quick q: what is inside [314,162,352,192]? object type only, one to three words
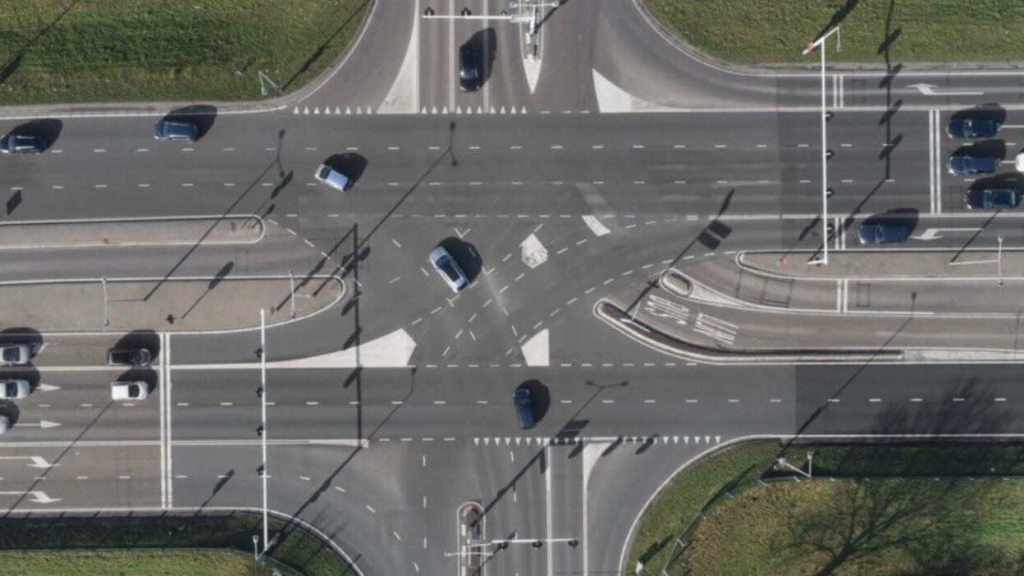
car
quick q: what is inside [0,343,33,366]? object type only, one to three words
car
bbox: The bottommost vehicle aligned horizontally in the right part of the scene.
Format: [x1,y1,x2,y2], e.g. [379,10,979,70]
[856,221,908,245]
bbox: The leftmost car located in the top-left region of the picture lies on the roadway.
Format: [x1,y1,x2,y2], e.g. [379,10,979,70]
[2,131,48,154]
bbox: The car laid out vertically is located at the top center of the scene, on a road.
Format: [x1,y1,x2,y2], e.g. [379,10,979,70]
[458,45,481,91]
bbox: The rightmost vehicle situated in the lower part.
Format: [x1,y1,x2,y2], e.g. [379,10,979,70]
[512,386,536,429]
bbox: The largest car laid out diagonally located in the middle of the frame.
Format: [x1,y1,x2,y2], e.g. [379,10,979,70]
[428,246,470,293]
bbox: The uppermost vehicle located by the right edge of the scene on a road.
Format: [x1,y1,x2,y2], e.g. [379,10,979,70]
[945,116,999,139]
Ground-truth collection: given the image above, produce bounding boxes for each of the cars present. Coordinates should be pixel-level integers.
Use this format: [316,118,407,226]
[314,162,352,192]
[946,152,999,176]
[0,343,33,366]
[109,345,153,367]
[856,221,908,245]
[0,378,32,401]
[945,116,999,139]
[458,45,481,91]
[2,131,48,154]
[512,386,536,429]
[428,246,470,293]
[154,119,199,142]
[964,187,1021,211]
[1013,153,1024,173]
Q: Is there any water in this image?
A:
No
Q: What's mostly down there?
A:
paved ground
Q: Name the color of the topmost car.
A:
black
